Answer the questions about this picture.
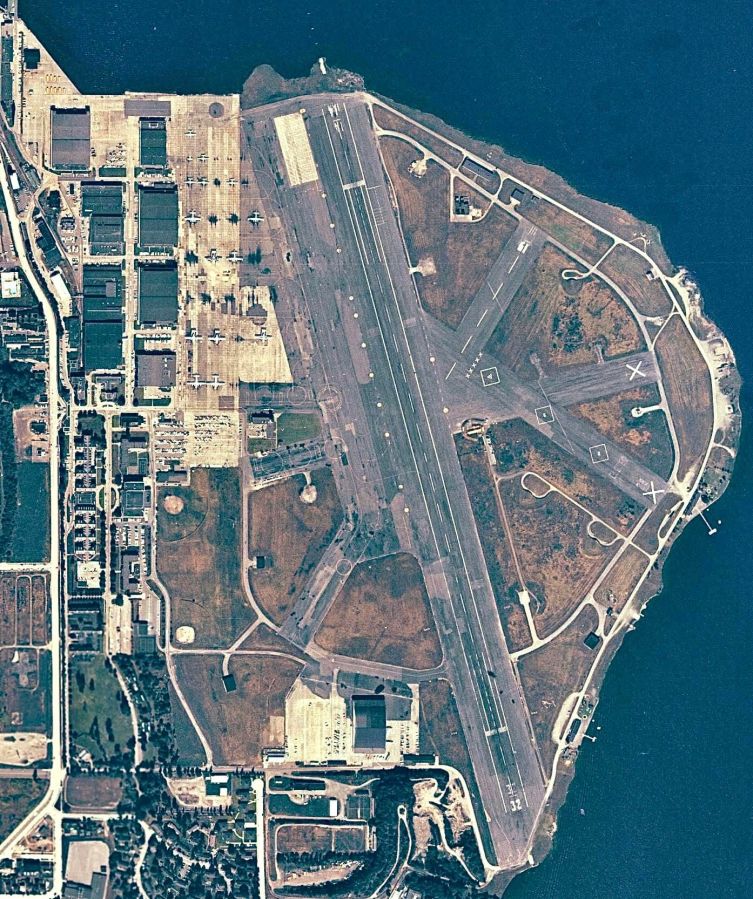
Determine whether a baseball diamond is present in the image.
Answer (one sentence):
Yes, there's a baseball diamond down there.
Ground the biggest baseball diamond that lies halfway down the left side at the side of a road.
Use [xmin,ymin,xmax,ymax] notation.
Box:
[156,486,210,543]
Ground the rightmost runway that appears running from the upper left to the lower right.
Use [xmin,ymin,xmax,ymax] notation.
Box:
[420,299,665,509]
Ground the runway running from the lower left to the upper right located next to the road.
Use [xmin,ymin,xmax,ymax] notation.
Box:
[440,221,548,379]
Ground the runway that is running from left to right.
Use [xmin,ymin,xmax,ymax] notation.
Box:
[520,350,656,408]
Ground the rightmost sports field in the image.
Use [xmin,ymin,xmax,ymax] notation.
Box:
[277,827,365,852]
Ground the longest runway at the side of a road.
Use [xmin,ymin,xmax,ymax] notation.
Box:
[240,99,546,867]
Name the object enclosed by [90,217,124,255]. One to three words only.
hangar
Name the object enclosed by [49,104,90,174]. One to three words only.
hangar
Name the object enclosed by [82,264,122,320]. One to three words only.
building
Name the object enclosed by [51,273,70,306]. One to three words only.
building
